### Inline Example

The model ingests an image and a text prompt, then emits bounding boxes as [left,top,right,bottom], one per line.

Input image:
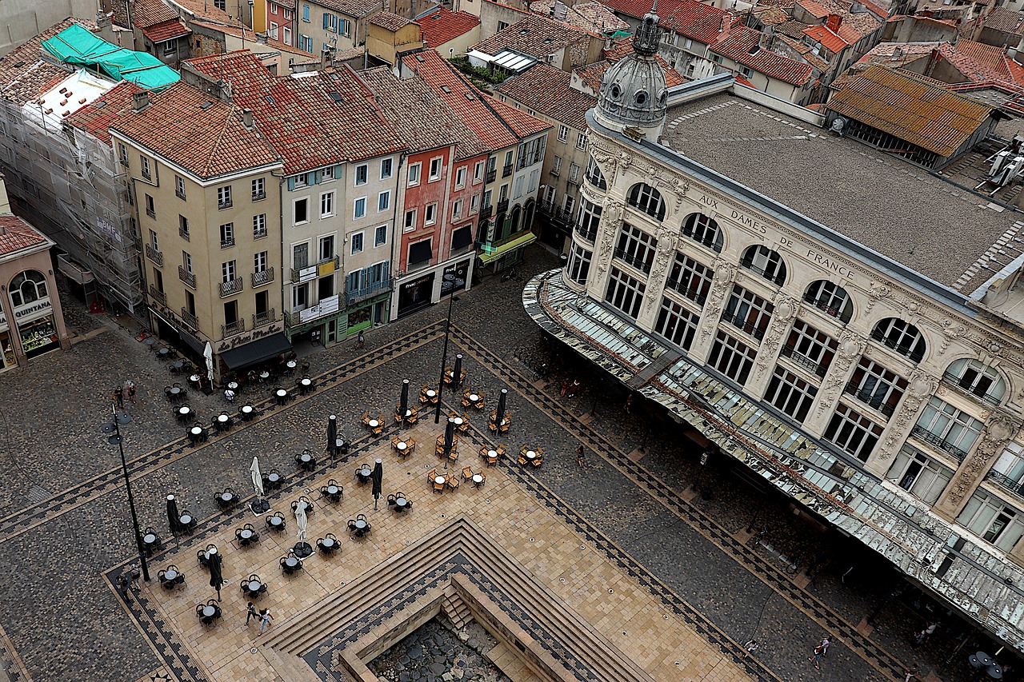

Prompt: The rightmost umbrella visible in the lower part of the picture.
[495,390,507,436]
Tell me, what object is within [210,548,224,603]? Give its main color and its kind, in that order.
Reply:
black umbrella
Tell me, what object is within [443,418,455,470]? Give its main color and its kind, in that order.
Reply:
black umbrella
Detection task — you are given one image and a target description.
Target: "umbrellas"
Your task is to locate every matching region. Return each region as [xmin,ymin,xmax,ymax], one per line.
[495,390,507,436]
[399,379,410,430]
[210,548,224,603]
[443,418,455,470]
[166,495,180,550]
[247,456,272,514]
[291,499,314,559]
[452,350,462,392]
[201,341,224,396]
[327,416,338,468]
[371,459,382,512]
